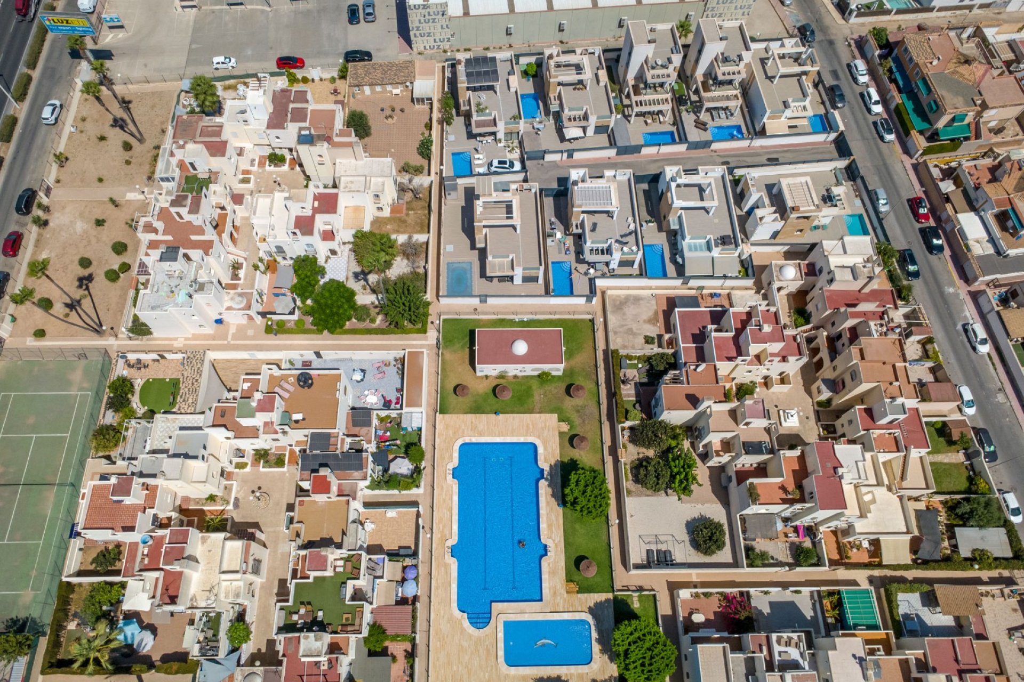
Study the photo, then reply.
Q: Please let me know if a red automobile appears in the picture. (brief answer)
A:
Yes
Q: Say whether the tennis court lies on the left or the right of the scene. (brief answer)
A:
left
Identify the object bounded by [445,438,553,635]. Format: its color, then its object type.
blue swimming pool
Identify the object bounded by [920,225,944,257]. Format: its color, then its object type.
black car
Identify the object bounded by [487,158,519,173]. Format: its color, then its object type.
white car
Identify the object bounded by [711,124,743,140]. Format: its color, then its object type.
blue swimming pool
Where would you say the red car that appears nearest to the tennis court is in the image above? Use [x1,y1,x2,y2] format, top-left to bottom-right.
[1,231,25,258]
